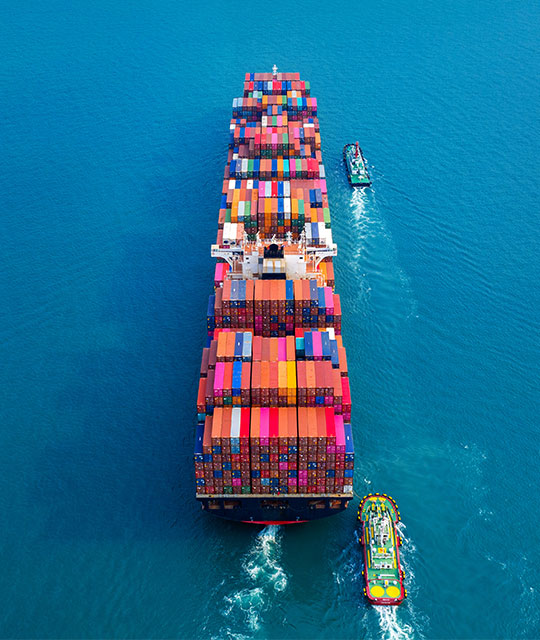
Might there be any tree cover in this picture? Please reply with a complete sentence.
No, no tree cover is visible.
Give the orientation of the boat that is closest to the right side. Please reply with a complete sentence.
The boat that is closest to the right side is laid out vertically.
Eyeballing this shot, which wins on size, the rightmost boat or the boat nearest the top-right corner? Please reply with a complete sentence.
The rightmost boat is bigger than the boat nearest the top-right corner.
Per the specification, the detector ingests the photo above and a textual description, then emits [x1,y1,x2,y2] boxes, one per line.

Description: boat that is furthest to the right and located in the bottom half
[358,492,407,606]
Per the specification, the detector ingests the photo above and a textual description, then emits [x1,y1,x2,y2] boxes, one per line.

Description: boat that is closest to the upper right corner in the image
[341,144,370,187]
